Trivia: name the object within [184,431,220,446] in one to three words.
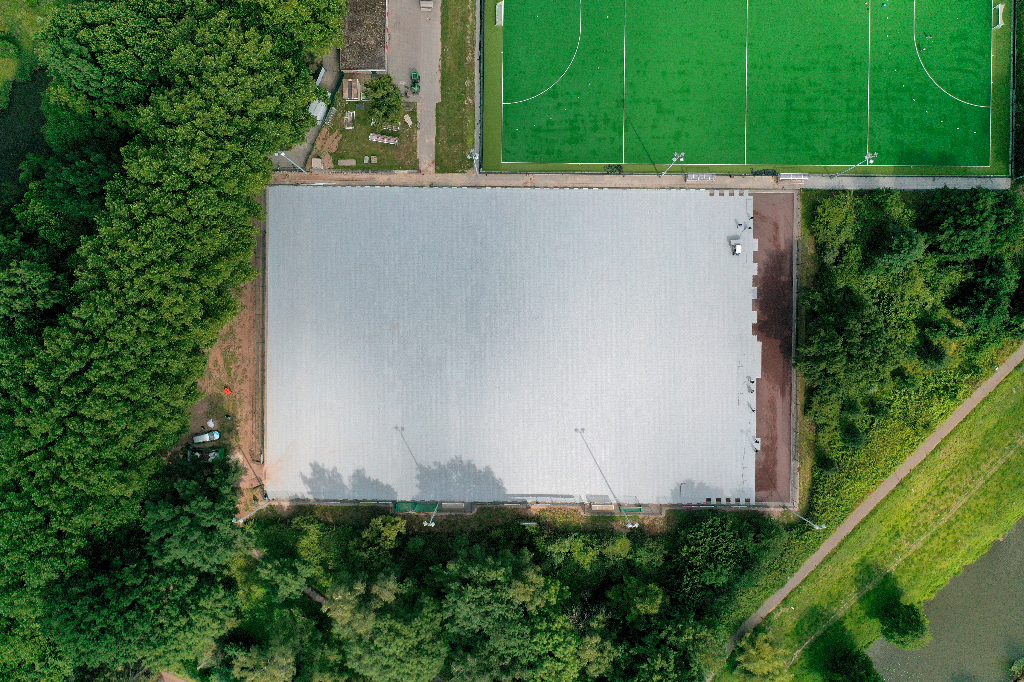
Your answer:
vehicle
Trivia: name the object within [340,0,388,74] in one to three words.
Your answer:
building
